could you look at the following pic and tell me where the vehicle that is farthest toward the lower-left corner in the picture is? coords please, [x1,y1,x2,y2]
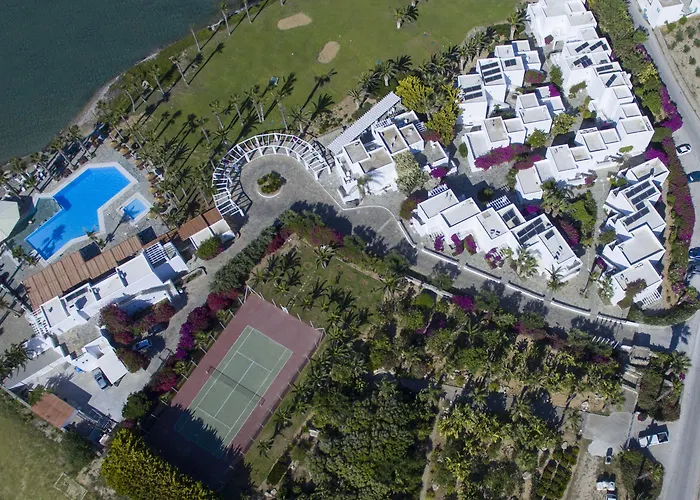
[90,369,107,388]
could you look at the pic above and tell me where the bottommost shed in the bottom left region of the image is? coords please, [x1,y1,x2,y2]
[33,391,79,432]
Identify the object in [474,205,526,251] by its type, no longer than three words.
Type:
house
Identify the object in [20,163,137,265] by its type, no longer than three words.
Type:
swimming pool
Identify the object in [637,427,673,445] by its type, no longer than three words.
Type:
vehicle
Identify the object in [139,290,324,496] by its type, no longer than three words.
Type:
tennis court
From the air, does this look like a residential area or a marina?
residential area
